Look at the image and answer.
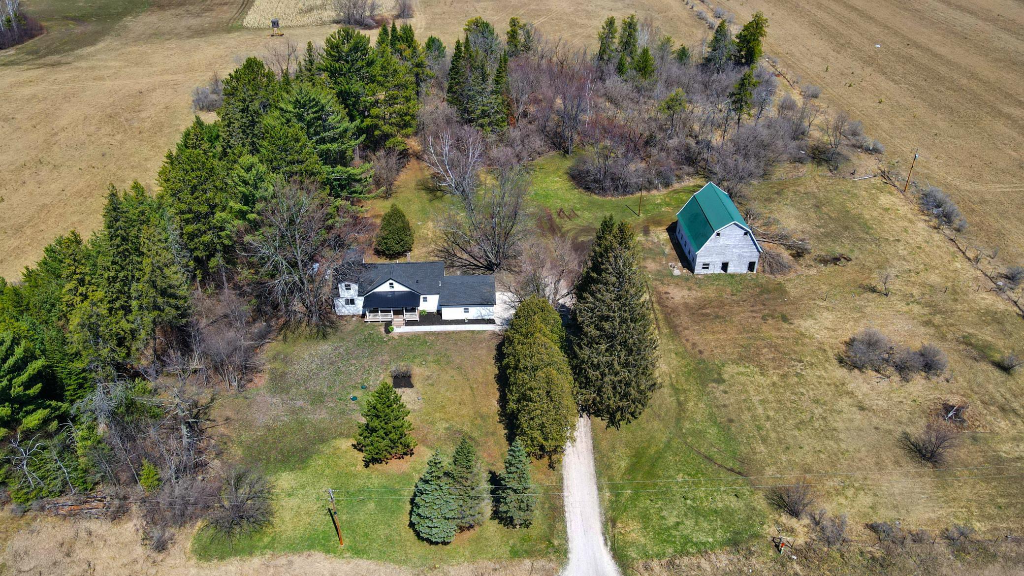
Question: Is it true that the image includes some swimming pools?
No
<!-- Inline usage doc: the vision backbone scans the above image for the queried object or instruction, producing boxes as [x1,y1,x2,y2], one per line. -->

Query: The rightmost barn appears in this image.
[673,184,764,274]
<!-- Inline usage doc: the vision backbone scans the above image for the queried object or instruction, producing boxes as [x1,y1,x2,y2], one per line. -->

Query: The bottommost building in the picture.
[327,244,497,330]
